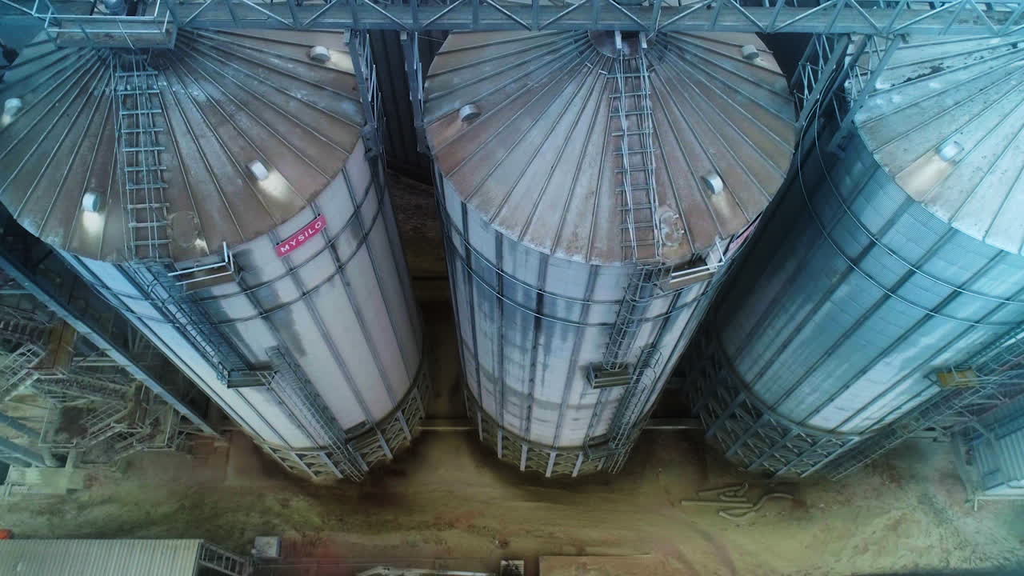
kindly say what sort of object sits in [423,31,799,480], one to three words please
silo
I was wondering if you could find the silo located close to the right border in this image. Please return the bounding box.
[681,0,1024,479]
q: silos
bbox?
[681,0,1024,479]
[0,23,438,482]
[423,31,799,480]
